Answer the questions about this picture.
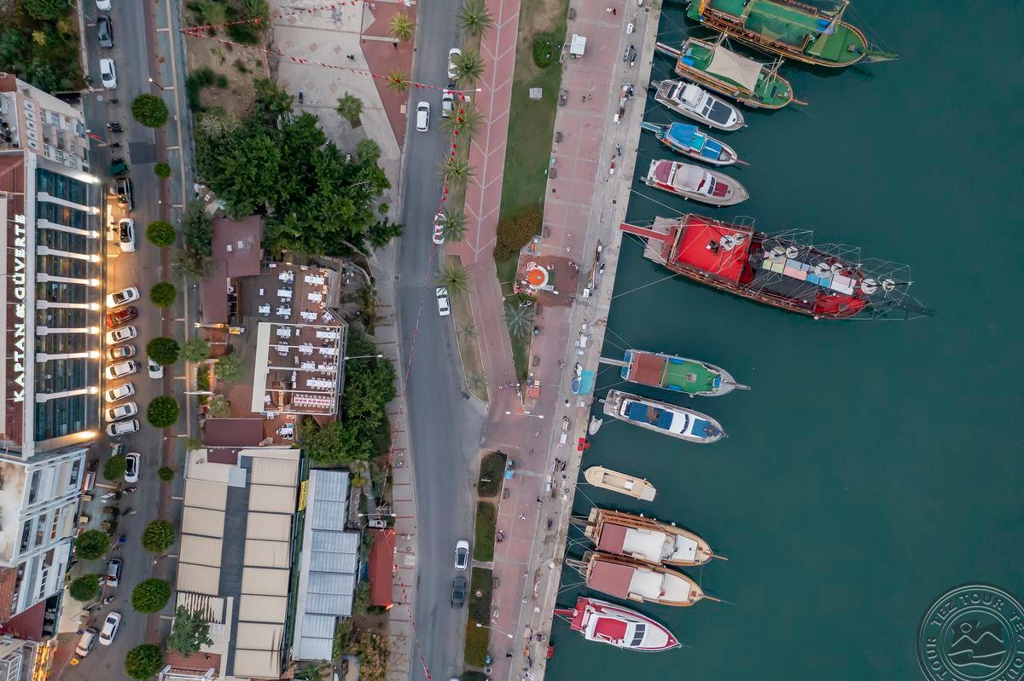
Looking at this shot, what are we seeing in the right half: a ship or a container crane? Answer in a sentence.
Visible in the right half is a ship.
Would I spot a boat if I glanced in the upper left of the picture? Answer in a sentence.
No, no boat is visible in the upper left of the picture.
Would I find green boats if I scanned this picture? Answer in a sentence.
Yes, a green boat appears in the view.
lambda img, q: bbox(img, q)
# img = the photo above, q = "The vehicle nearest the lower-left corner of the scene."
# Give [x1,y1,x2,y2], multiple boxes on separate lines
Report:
[71,625,99,659]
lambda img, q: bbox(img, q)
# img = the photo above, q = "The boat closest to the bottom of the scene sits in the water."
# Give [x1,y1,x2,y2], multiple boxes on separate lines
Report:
[553,597,686,653]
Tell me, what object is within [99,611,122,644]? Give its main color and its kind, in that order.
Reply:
white car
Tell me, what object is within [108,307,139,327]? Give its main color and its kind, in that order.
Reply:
red car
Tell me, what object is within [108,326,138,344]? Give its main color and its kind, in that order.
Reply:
white car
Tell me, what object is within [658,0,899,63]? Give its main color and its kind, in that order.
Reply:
green boat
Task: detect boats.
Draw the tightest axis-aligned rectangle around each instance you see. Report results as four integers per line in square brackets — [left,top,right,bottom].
[568,496,728,591]
[595,328,750,396]
[640,121,749,165]
[599,391,725,441]
[658,0,899,63]
[632,160,749,215]
[655,18,807,108]
[559,539,722,606]
[646,80,747,128]
[577,467,657,508]
[588,415,603,434]
[553,597,686,653]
